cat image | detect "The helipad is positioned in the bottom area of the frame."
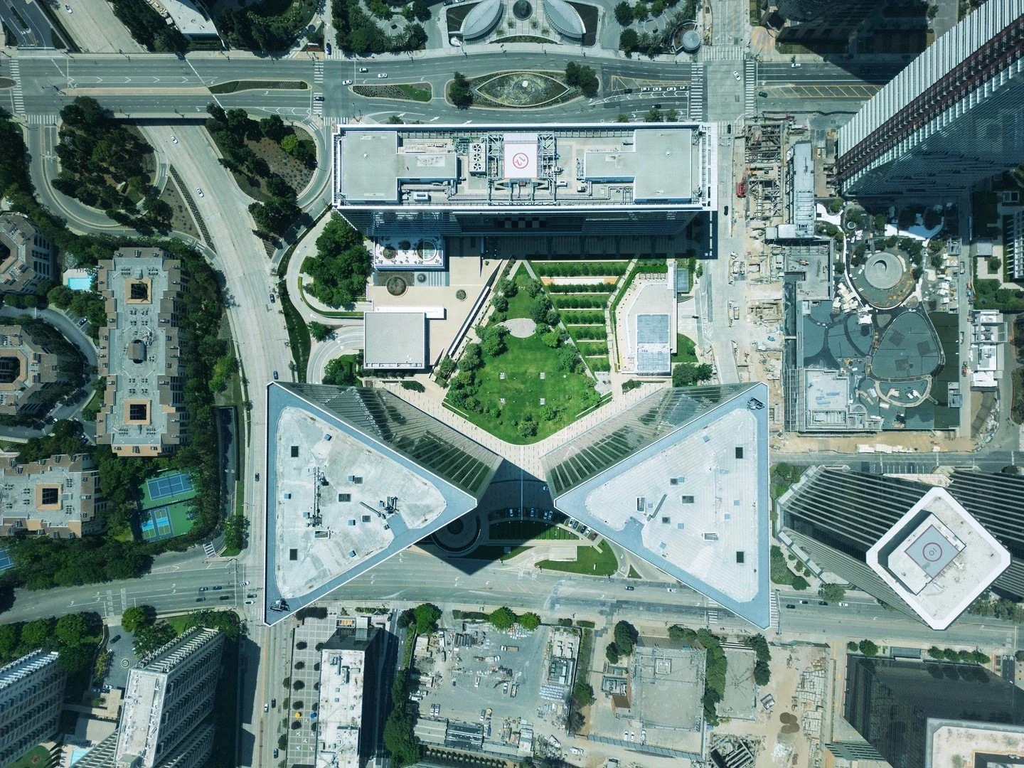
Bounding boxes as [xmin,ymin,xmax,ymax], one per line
[904,525,959,579]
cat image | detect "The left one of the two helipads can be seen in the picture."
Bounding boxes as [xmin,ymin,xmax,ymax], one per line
[504,133,538,178]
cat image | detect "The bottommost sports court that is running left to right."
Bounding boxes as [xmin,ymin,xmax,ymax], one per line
[140,502,203,542]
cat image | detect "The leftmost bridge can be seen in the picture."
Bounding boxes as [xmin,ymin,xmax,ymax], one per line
[58,50,224,119]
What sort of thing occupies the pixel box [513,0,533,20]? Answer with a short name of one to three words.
fountain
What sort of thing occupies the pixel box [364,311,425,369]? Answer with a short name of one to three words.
building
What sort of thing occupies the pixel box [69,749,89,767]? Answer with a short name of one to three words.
swimming pool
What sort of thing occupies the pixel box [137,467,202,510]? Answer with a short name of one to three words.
tennis court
